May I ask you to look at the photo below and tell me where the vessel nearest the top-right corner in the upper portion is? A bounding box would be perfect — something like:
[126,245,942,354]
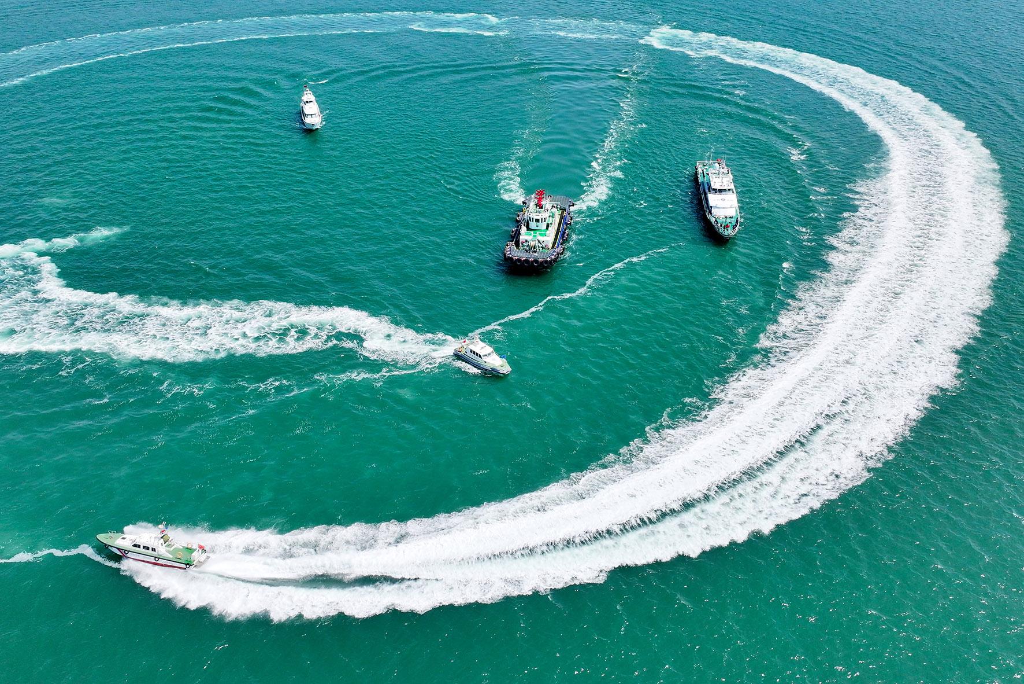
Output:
[692,153,739,252]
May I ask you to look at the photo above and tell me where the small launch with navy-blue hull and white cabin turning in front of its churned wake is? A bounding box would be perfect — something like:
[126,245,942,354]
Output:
[453,339,513,377]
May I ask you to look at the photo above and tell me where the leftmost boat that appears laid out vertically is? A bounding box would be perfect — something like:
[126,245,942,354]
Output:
[298,83,322,129]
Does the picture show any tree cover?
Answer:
No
